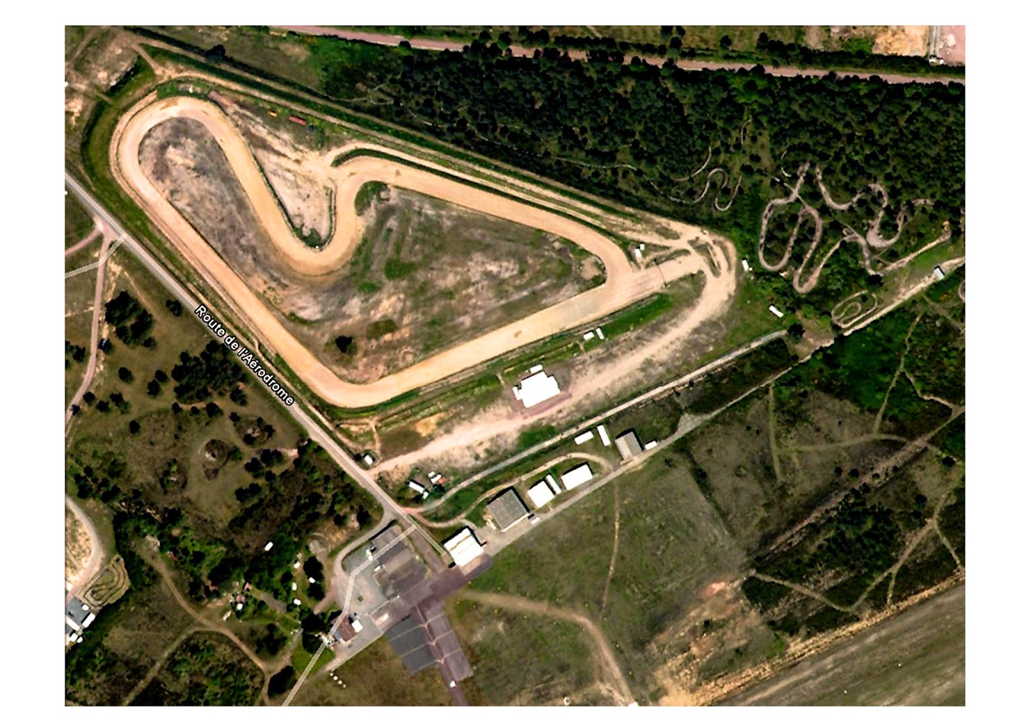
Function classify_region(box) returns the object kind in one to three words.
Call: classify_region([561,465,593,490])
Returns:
hangar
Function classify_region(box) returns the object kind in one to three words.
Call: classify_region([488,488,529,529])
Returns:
hangar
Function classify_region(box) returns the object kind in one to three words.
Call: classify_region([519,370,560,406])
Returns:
building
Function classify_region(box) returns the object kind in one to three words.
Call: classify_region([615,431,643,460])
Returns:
building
